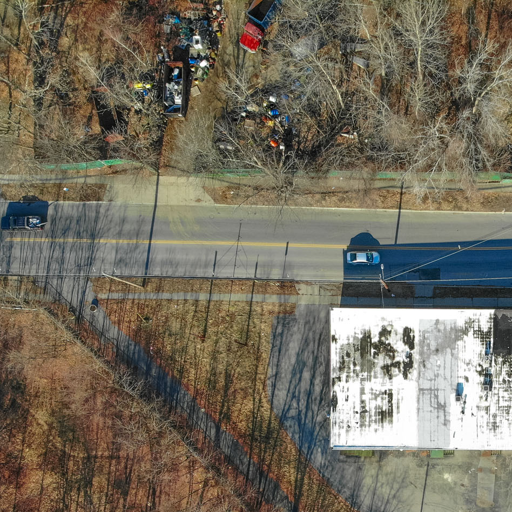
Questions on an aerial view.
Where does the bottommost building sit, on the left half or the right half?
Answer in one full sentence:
The bottommost building appears in the right half of the scene.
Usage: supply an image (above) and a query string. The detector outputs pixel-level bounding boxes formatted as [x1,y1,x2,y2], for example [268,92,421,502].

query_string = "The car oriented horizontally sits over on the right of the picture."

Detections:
[347,250,380,266]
